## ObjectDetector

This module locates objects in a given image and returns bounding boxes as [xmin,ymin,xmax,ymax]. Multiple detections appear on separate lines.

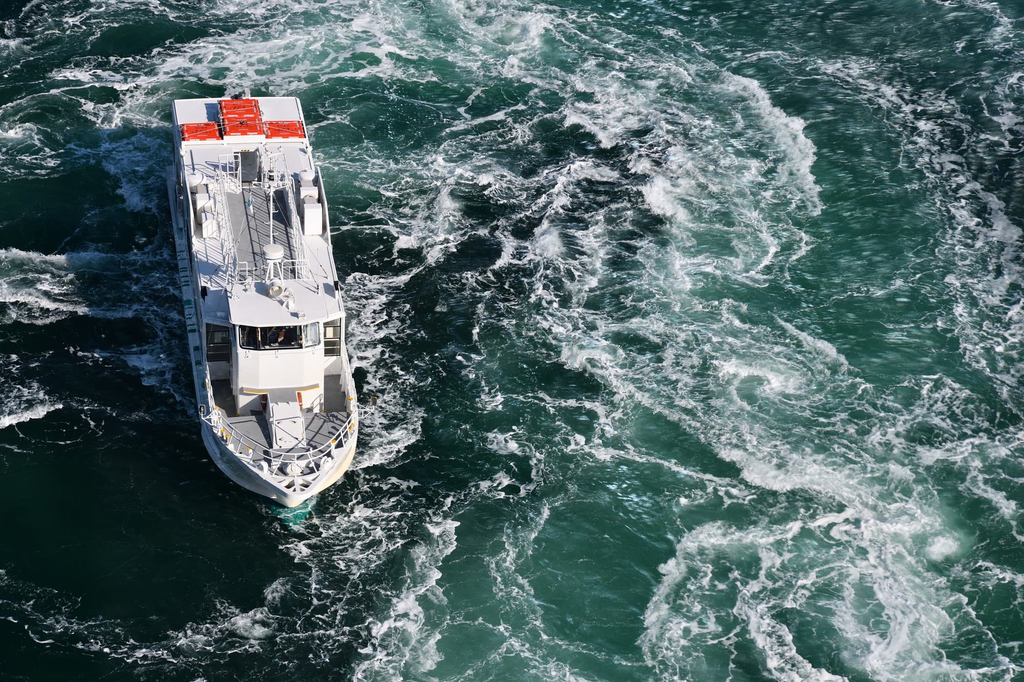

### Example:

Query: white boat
[169,91,378,506]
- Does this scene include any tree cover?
No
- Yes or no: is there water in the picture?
Yes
